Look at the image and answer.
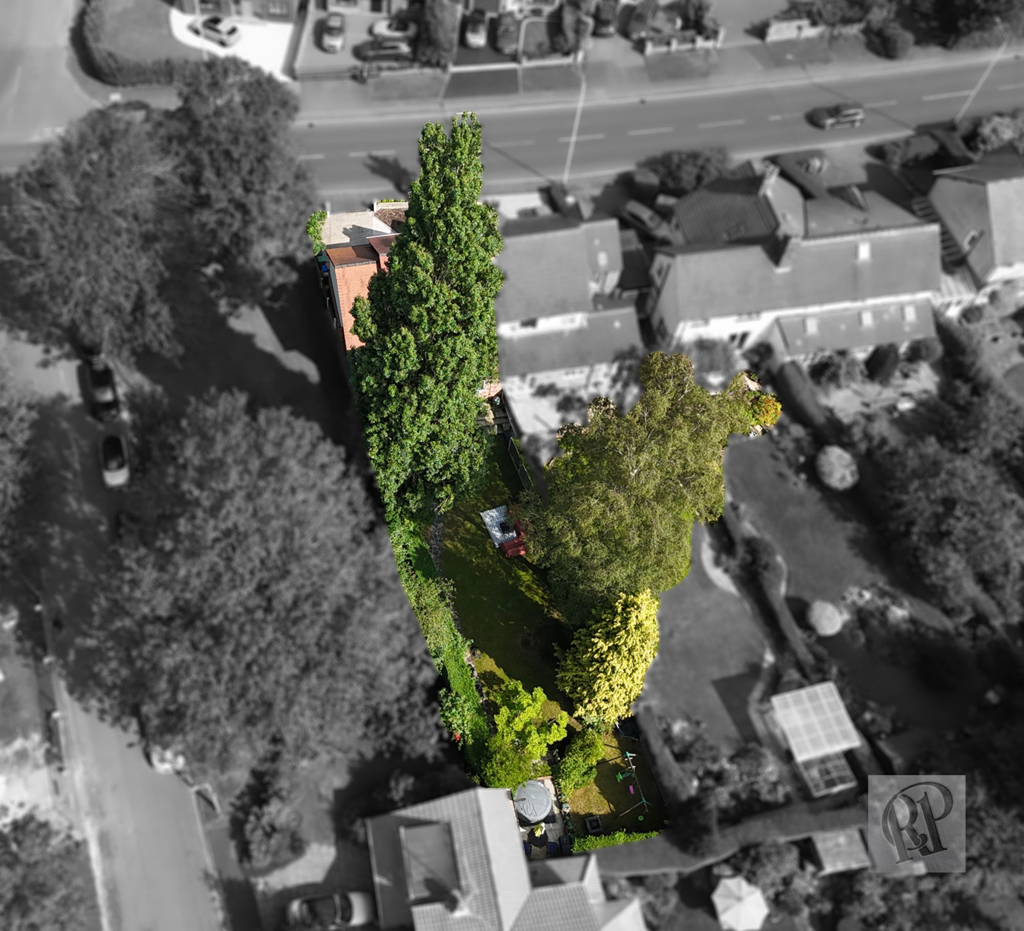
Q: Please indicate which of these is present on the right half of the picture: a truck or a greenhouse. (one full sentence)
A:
Visible on the right half of the picture is a greenhouse.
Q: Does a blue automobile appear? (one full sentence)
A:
No, this view has no blue automobile in it.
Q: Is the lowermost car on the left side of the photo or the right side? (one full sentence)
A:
The lowermost car appears in the left half of the scene.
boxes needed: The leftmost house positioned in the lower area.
[365,788,647,931]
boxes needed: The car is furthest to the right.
[811,98,867,130]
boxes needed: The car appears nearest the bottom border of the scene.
[288,890,376,931]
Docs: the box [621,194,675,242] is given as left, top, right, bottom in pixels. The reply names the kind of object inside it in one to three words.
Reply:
car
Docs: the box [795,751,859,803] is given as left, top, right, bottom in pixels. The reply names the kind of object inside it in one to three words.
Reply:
greenhouse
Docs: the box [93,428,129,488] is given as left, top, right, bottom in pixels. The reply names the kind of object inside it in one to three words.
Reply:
car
